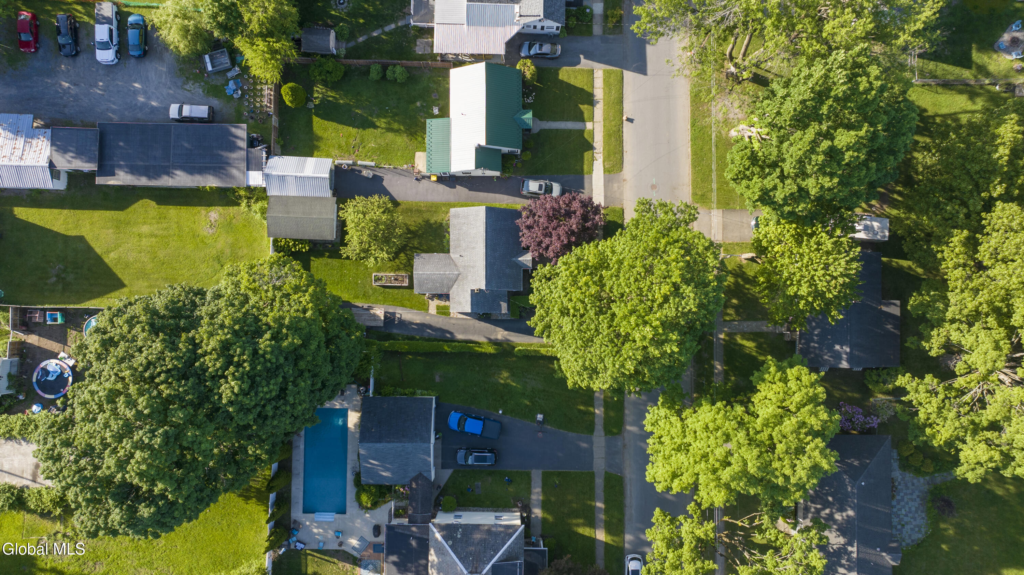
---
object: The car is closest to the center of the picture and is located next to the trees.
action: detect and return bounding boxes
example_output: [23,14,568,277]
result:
[520,178,562,198]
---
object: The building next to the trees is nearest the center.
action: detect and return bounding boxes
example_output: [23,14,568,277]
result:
[412,206,532,313]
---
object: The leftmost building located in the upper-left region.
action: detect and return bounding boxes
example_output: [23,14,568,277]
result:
[0,114,67,190]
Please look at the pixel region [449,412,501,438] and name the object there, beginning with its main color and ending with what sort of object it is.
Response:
blue truck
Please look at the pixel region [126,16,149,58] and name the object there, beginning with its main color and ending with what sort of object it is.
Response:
blue car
